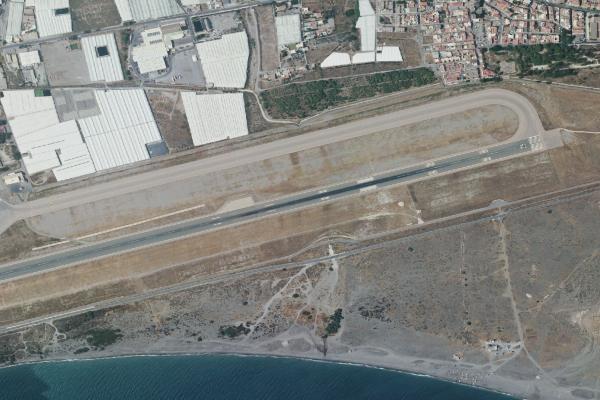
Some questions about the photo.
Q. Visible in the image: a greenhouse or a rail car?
greenhouse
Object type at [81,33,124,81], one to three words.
greenhouse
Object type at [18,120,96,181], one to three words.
greenhouse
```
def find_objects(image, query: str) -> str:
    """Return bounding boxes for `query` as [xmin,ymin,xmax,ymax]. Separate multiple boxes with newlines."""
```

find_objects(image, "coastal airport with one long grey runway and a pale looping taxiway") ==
[0,89,564,283]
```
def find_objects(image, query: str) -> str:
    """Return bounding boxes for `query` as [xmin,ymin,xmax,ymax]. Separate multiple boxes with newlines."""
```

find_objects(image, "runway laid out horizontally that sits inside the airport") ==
[0,133,547,283]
